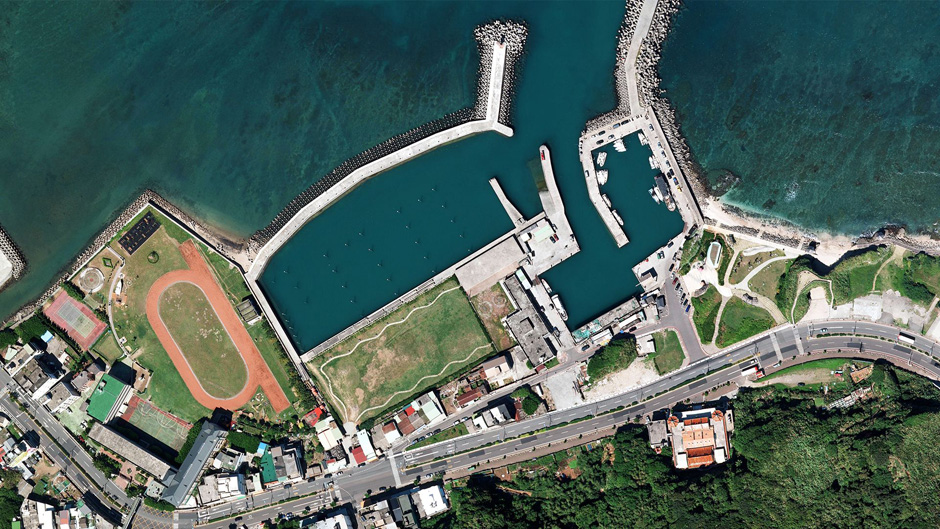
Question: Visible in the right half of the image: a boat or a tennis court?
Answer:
boat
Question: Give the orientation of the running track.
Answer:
on a diagonal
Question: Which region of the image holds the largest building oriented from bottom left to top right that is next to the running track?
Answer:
bottom left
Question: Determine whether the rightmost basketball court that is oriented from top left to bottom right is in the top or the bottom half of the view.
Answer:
bottom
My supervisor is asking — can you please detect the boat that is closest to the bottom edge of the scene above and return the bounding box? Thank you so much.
[550,296,568,321]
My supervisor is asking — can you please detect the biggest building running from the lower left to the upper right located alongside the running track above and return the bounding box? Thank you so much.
[162,420,234,506]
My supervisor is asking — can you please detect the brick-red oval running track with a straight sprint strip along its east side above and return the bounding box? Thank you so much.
[147,239,291,413]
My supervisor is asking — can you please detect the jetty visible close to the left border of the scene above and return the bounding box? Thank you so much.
[0,241,22,289]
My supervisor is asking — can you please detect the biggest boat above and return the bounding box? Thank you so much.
[655,174,673,212]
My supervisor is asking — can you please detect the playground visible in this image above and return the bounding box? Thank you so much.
[118,211,162,255]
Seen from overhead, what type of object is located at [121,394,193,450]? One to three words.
basketball court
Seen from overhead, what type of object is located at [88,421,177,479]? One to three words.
building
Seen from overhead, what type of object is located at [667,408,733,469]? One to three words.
house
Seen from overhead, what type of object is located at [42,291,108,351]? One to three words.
tennis court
